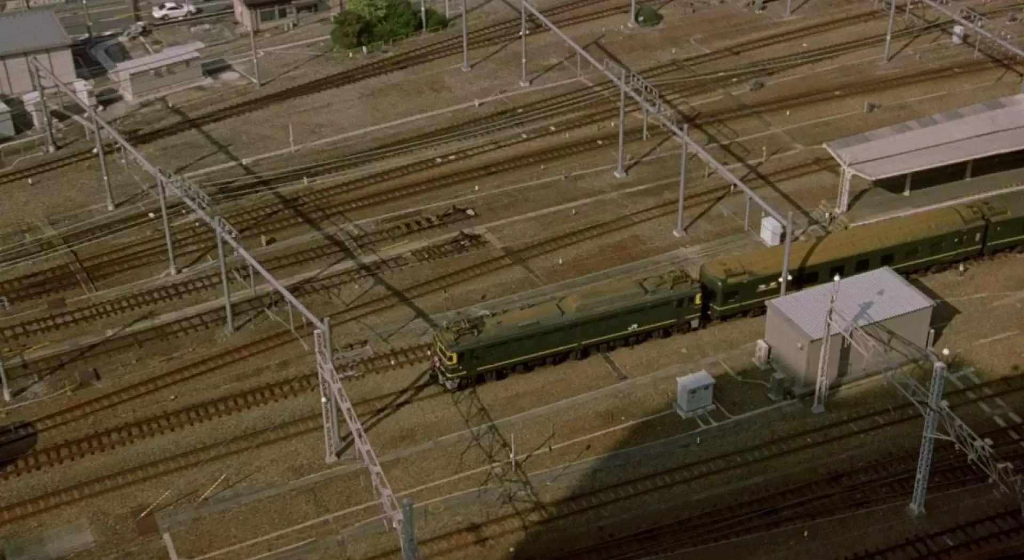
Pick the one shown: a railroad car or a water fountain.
railroad car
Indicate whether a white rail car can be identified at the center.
No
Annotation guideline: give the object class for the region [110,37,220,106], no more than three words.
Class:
building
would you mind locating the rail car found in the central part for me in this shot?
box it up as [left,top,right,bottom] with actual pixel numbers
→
[429,267,701,388]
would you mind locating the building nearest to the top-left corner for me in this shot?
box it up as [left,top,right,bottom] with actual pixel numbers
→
[0,9,77,97]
